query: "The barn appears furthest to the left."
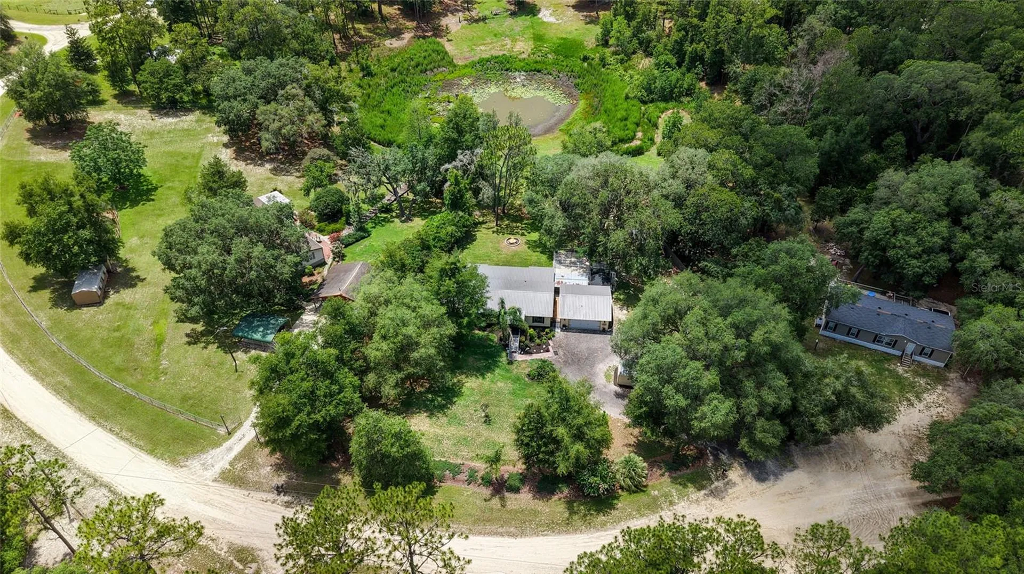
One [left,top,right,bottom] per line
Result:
[69,258,109,306]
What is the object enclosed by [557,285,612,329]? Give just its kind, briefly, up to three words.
building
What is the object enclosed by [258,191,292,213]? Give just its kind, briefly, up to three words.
shed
